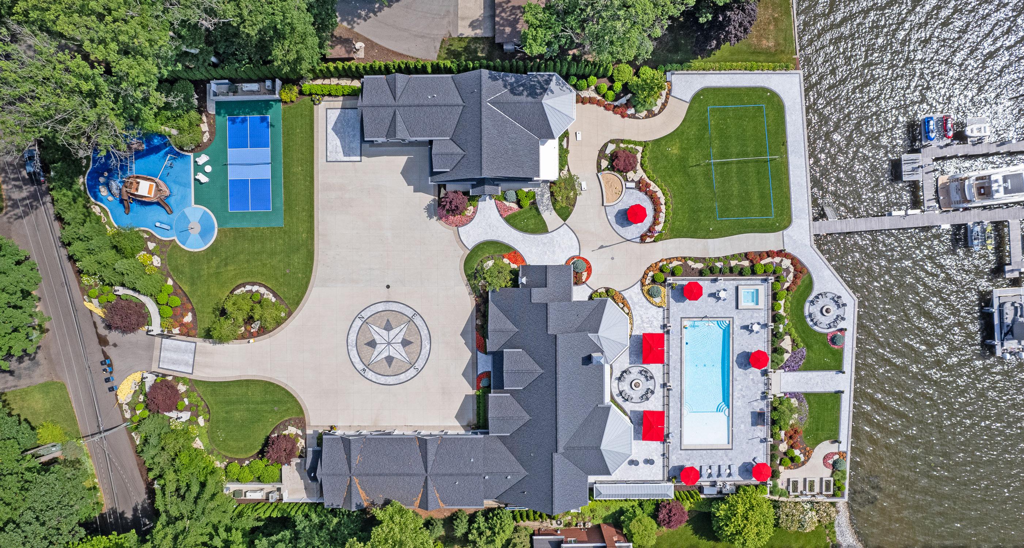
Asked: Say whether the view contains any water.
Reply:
Yes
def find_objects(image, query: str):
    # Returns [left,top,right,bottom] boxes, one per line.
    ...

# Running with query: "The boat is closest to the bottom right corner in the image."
[1002,301,1024,355]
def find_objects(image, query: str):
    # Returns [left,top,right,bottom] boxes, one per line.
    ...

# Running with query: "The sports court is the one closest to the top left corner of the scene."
[194,99,284,228]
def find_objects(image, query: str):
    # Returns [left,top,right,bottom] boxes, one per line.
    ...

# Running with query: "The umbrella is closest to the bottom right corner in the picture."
[752,462,770,480]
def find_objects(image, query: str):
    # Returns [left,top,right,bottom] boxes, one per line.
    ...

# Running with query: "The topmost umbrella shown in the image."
[627,204,646,223]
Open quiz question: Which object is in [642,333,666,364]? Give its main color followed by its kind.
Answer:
red umbrella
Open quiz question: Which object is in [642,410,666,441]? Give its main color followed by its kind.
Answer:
red umbrella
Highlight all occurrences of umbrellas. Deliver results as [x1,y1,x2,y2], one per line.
[680,465,699,485]
[627,204,646,223]
[683,282,702,300]
[748,349,769,370]
[642,333,666,364]
[642,410,666,441]
[752,462,770,480]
